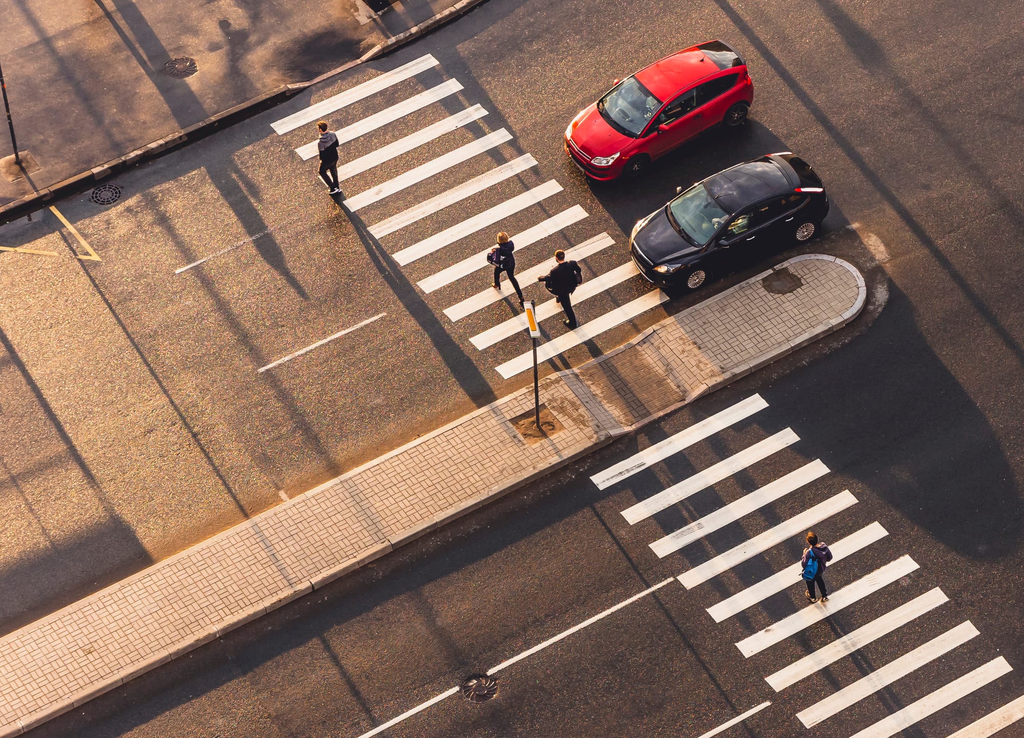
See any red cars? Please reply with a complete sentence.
Yes, the frame does contain a red car.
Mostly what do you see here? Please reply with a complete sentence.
The bulk of the photo consists of paved ground.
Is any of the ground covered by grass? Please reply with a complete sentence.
No, the picture contains no grass.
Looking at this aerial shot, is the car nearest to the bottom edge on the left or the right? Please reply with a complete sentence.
You can find the car nearest to the bottom edge on the right side of the picture.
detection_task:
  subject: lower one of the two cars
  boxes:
[621,155,832,293]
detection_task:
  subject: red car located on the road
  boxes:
[563,42,759,177]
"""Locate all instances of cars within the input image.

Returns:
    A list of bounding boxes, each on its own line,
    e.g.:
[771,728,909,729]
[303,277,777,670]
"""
[621,155,832,293]
[563,42,759,177]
